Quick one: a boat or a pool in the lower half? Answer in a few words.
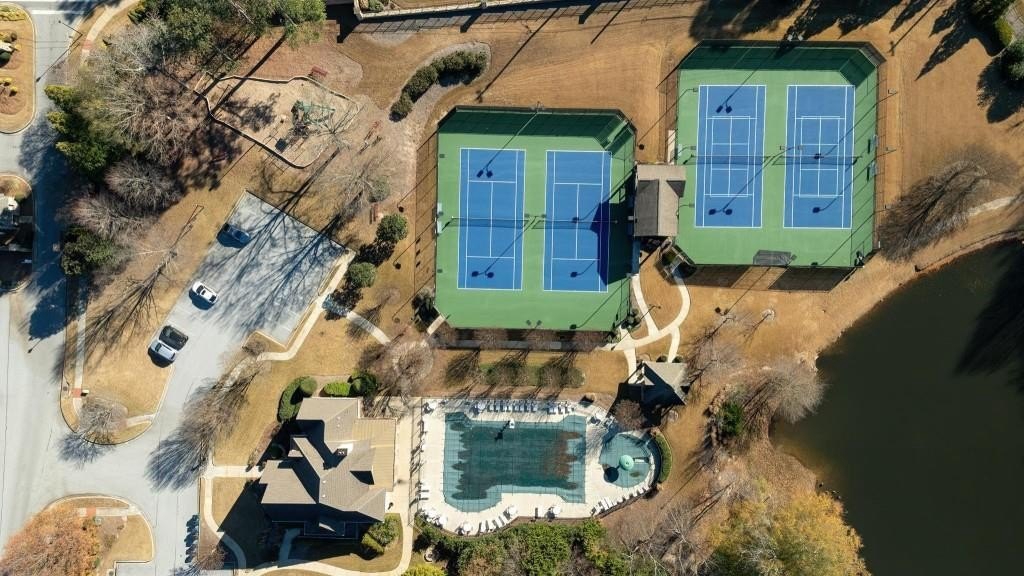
pool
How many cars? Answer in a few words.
4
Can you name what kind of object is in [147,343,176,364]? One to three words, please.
car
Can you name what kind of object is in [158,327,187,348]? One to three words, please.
car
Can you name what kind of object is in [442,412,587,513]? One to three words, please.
swimming pool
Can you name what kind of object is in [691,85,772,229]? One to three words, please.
tennis court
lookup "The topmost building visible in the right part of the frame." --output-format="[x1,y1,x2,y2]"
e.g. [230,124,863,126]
[632,165,686,237]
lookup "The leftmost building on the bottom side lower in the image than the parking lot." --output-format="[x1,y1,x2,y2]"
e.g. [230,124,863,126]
[260,398,396,536]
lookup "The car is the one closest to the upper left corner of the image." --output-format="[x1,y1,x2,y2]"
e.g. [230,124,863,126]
[218,225,247,247]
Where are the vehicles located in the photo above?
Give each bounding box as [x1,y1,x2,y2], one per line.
[147,343,176,364]
[218,225,247,247]
[158,327,187,348]
[188,284,217,305]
